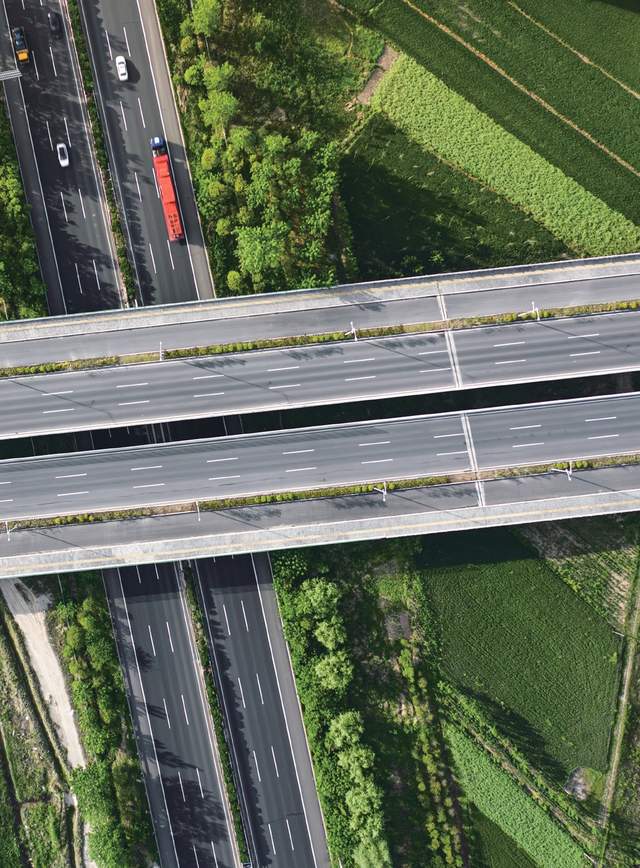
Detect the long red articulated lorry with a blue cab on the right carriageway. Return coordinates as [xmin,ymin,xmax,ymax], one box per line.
[151,139,186,243]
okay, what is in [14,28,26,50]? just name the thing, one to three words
vehicle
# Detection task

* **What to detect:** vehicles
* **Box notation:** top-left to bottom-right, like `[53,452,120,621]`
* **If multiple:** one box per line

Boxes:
[115,57,127,80]
[58,142,70,167]
[14,28,26,50]
[12,26,31,65]
[151,139,186,243]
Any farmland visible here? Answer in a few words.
Yes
